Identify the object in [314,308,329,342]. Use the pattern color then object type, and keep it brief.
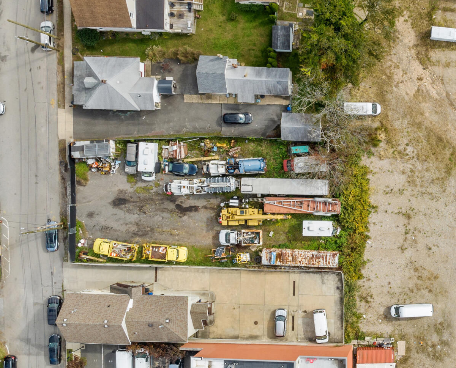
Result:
white car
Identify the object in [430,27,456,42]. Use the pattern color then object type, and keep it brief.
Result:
white vehicle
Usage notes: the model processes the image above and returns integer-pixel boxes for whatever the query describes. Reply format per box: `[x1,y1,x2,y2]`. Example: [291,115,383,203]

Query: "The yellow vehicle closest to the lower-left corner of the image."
[93,239,139,259]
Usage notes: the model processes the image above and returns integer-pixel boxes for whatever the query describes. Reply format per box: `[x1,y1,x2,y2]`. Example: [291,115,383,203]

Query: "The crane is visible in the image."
[224,208,289,226]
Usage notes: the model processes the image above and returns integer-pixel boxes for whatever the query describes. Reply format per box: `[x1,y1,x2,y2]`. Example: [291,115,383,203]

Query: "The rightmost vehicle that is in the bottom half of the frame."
[391,302,432,319]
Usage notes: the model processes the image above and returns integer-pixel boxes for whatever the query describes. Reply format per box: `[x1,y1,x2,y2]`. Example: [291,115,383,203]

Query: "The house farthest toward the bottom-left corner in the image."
[58,282,216,345]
